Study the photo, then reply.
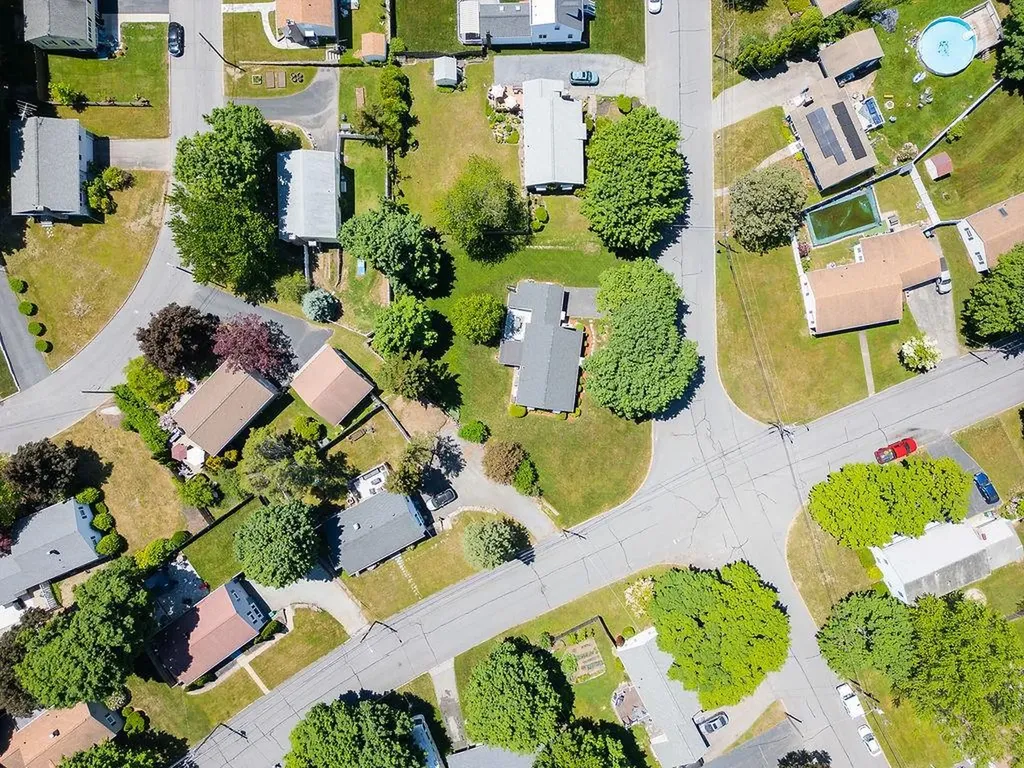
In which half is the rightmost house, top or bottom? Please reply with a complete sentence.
It is in the top half that the rightmost house appears.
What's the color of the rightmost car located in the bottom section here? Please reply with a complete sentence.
From above, the rightmost car located in the bottom section appears blue.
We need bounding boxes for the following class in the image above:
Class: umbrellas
[189,446,207,465]
[490,85,506,102]
[174,443,190,459]
[503,95,518,110]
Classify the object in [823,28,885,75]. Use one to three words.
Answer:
building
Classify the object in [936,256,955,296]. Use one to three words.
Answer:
vehicle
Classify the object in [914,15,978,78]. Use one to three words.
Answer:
swimming pool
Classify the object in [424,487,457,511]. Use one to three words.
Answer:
car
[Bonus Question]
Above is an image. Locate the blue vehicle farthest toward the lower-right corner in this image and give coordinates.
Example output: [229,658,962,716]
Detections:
[973,472,999,504]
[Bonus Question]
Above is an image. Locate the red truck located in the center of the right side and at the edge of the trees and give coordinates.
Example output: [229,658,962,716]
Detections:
[873,438,918,464]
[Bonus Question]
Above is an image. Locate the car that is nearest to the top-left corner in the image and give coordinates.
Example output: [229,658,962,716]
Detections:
[167,21,185,58]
